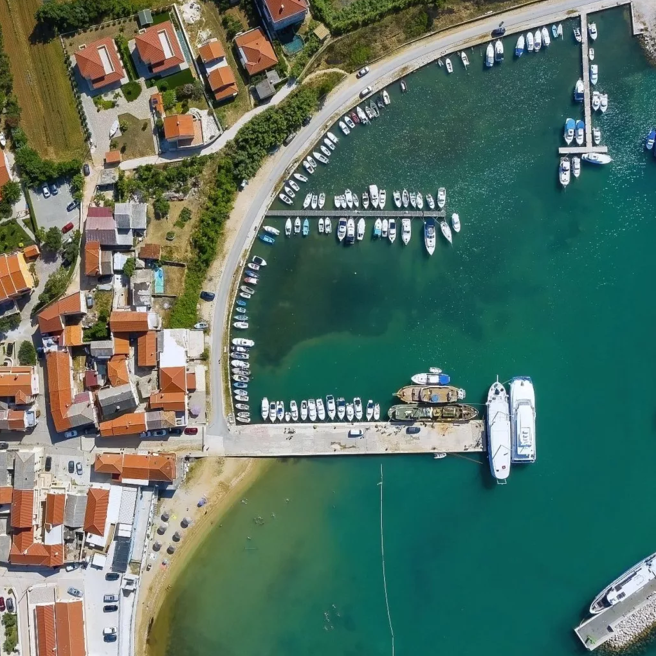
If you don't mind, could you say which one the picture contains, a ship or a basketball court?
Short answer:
ship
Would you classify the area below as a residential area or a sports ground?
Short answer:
residential area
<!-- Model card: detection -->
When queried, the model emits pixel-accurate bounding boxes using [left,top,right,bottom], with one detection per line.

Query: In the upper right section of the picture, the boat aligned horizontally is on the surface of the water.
[581,151,613,163]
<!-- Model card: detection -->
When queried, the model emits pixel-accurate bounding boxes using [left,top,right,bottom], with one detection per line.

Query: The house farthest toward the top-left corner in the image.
[75,36,124,90]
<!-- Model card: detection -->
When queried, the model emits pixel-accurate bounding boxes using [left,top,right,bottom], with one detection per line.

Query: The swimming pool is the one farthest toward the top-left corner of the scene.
[176,28,191,63]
